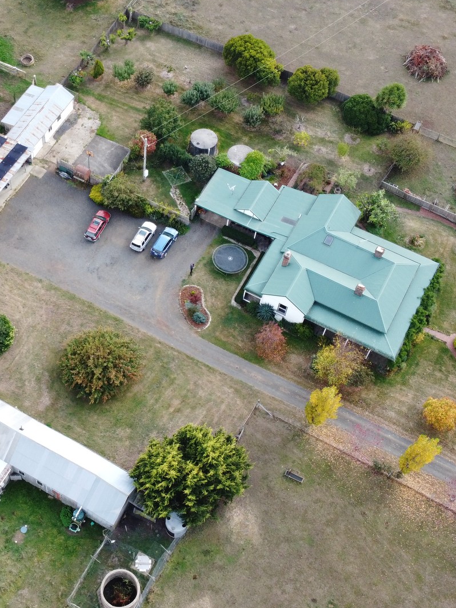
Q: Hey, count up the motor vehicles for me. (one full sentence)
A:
Looking from above, you can make out 3 motor vehicles.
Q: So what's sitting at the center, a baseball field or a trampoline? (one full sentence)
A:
You can see a trampoline at the center.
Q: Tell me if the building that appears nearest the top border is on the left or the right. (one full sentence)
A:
The building that appears nearest the top border appears in the left half of the scene.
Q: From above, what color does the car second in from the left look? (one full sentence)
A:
The car second in from the left is white.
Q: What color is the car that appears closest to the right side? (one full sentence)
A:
In this view, the car that appears closest to the right side is blue.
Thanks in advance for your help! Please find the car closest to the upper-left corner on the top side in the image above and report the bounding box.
[85,210,109,242]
